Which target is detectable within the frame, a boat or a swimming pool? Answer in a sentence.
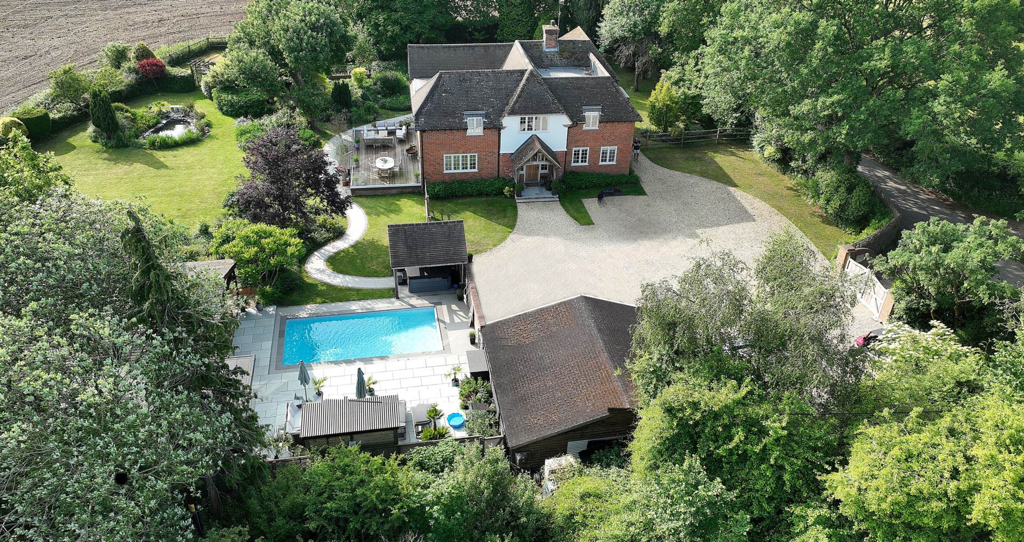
Of the two, only a swimming pool appears.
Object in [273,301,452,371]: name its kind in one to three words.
swimming pool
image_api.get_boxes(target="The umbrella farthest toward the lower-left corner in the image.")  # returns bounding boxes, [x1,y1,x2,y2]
[296,358,311,395]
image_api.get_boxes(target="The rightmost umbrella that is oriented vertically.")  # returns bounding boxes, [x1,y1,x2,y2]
[353,364,366,397]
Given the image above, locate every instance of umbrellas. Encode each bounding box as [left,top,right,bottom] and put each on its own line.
[353,364,366,397]
[296,358,311,395]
